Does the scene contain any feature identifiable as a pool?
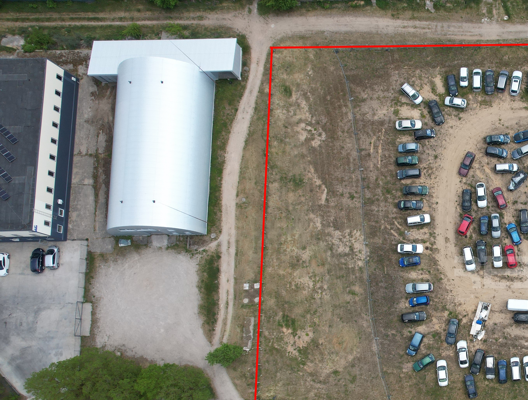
No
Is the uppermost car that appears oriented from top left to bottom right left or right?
right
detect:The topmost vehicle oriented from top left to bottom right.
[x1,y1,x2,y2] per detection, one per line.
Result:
[401,82,422,104]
